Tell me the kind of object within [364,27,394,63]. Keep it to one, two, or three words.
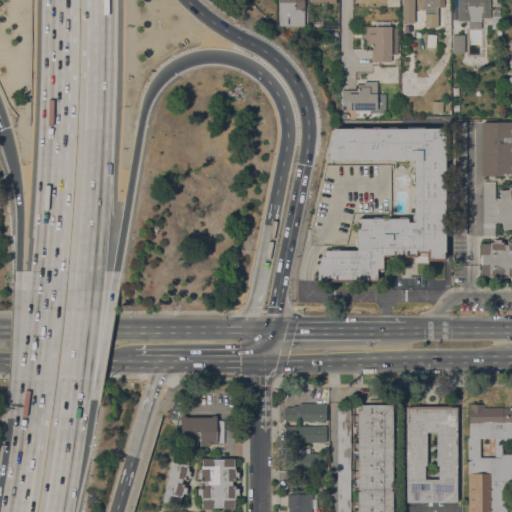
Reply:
house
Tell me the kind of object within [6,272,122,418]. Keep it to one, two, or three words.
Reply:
overpass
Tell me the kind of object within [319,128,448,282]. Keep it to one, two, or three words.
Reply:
building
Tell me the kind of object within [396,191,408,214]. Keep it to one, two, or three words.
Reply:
swimming pool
